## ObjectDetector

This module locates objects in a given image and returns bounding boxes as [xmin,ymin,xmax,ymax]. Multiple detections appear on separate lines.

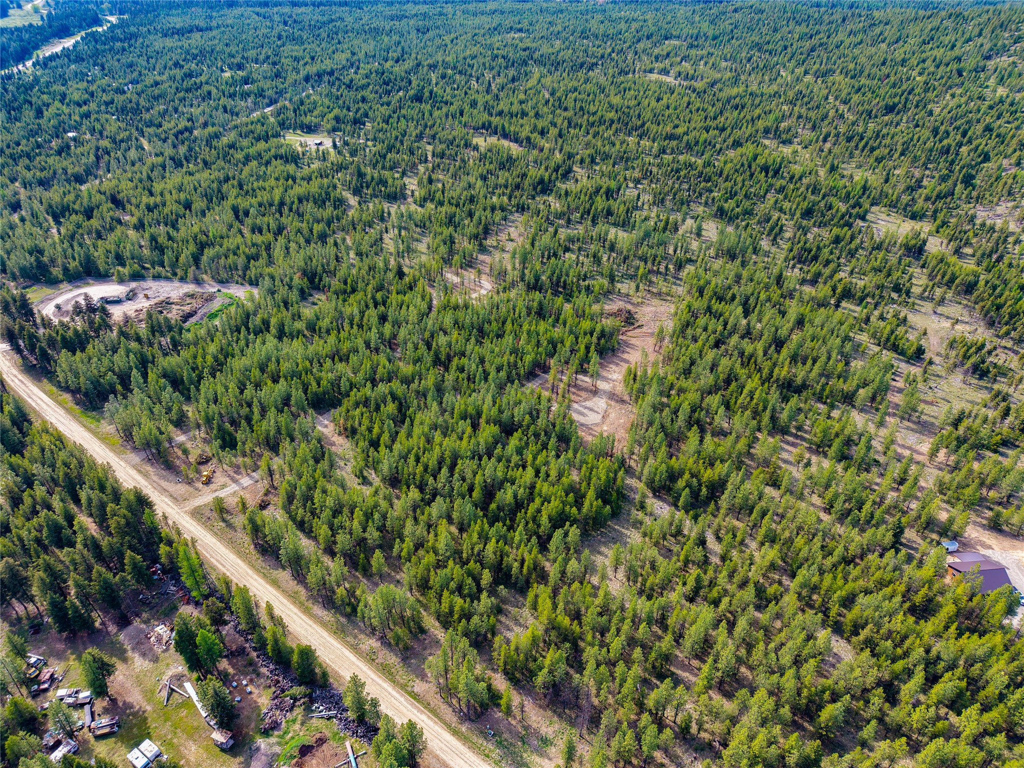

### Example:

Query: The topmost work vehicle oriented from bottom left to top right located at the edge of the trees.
[198,465,222,489]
